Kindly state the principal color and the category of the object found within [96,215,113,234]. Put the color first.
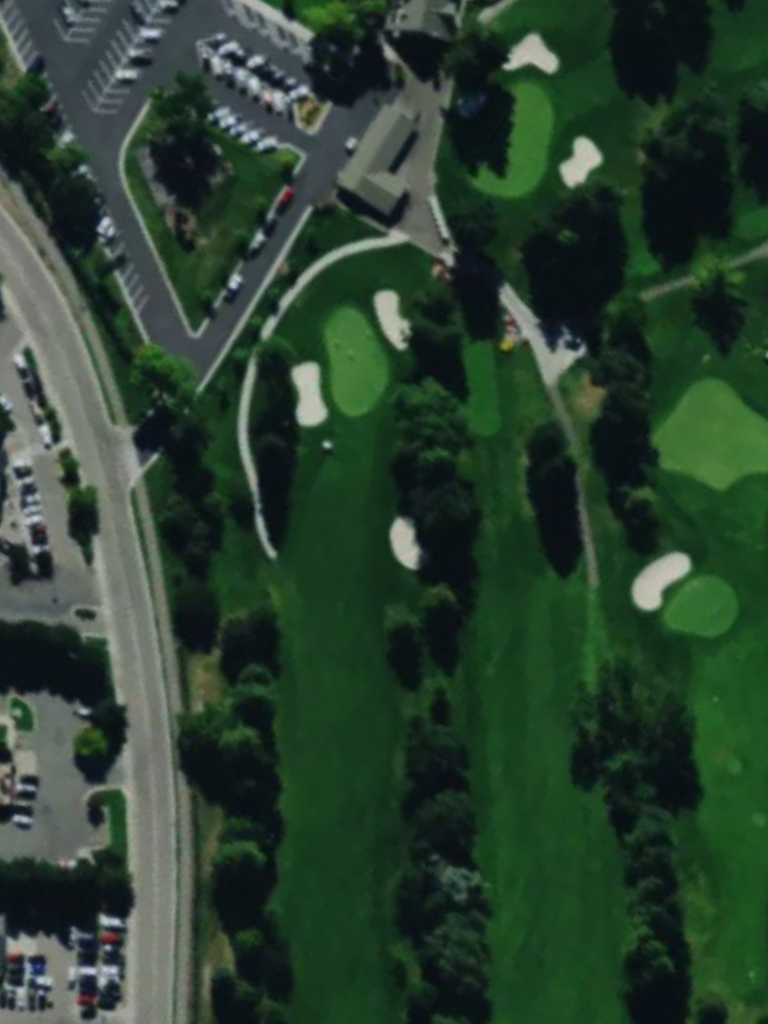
white car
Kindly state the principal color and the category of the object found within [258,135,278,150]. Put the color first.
white car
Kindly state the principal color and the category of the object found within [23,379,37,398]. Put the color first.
black car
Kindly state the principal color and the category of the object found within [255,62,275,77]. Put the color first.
black car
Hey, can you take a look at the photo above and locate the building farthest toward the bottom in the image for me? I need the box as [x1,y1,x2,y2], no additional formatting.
[335,103,415,215]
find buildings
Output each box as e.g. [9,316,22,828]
[335,103,415,215]
[383,0,458,36]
